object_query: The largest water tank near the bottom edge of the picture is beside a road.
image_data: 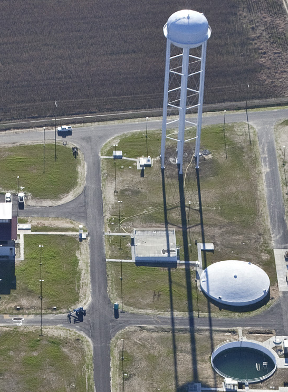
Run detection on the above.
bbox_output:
[207,336,282,385]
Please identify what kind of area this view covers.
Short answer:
industrial area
